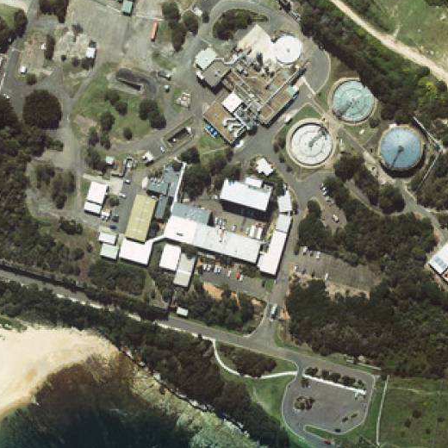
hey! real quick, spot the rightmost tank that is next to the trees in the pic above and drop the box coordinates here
[379,127,424,172]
